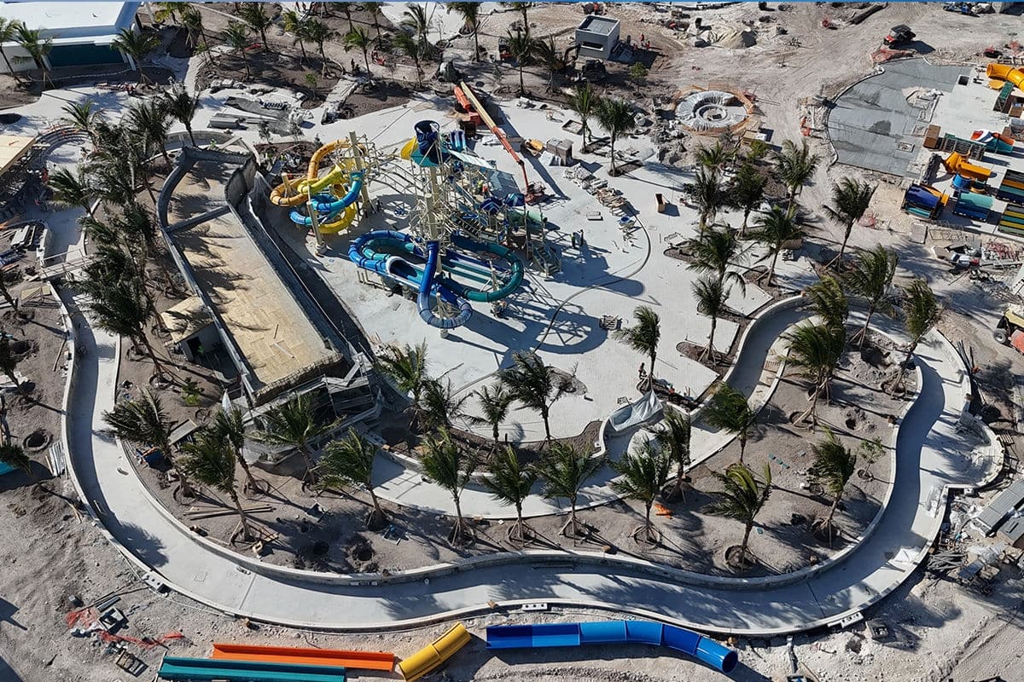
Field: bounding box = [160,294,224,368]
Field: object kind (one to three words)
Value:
shed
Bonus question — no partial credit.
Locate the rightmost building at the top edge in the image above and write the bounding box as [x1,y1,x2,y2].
[576,4,622,59]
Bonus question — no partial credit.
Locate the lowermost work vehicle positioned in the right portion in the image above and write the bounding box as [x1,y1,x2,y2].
[987,306,1024,345]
